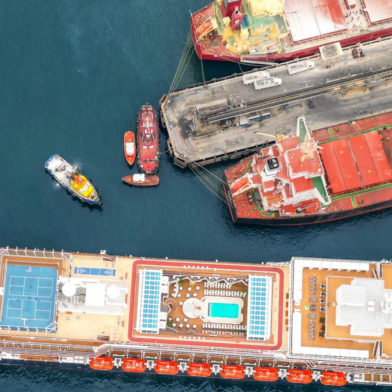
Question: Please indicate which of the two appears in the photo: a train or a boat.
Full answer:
It is a boat that can be seen here.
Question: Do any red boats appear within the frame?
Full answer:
Yes, a red boat can be made out from above.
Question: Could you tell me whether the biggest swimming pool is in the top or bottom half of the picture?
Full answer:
Seen from above, the biggest swimming pool lies in the bottom half of the view.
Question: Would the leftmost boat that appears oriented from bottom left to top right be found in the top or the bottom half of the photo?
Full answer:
The leftmost boat that appears oriented from bottom left to top right sits in the top half of the picture.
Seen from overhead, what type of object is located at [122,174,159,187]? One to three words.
boat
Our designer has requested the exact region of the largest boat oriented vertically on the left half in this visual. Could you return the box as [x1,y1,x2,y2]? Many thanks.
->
[134,101,162,177]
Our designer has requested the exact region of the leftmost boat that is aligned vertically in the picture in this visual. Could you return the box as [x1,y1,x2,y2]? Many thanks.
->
[123,131,135,166]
